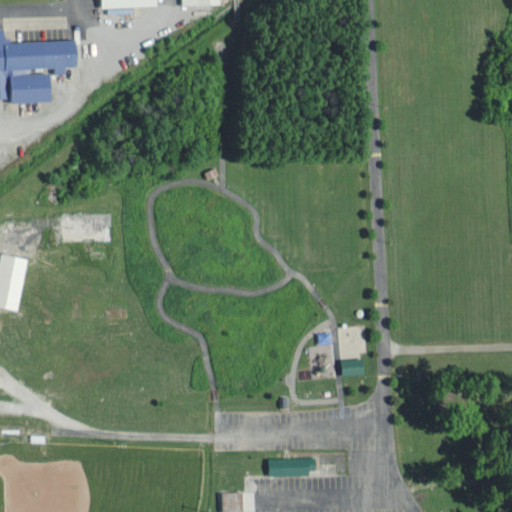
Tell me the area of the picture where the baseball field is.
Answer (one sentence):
You can find the baseball field in the bottom left area of the picture.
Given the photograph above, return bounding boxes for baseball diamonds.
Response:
[0,455,90,512]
